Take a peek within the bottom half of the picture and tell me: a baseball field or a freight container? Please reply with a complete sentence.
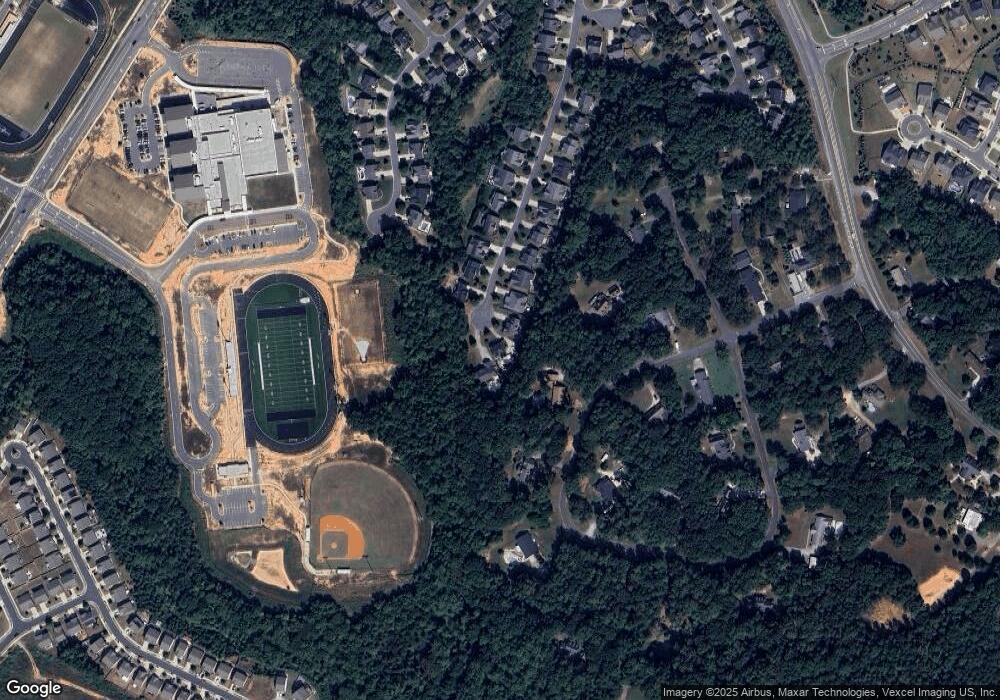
The feature located within the bottom half of the picture is a baseball field.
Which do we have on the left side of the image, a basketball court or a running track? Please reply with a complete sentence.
Looking on the left side of the image, you will find a running track.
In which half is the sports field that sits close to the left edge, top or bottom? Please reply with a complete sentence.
You can find the sports field that sits close to the left edge in the top half.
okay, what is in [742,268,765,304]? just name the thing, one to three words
house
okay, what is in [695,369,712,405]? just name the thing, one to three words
house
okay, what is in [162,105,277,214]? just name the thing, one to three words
building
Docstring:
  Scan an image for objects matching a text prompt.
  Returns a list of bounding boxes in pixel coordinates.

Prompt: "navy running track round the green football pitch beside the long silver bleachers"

[233,273,338,453]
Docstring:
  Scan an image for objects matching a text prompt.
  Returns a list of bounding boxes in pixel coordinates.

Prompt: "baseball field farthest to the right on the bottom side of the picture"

[310,460,416,570]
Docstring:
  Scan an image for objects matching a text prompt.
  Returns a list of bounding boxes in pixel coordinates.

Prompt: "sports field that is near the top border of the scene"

[0,0,98,144]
